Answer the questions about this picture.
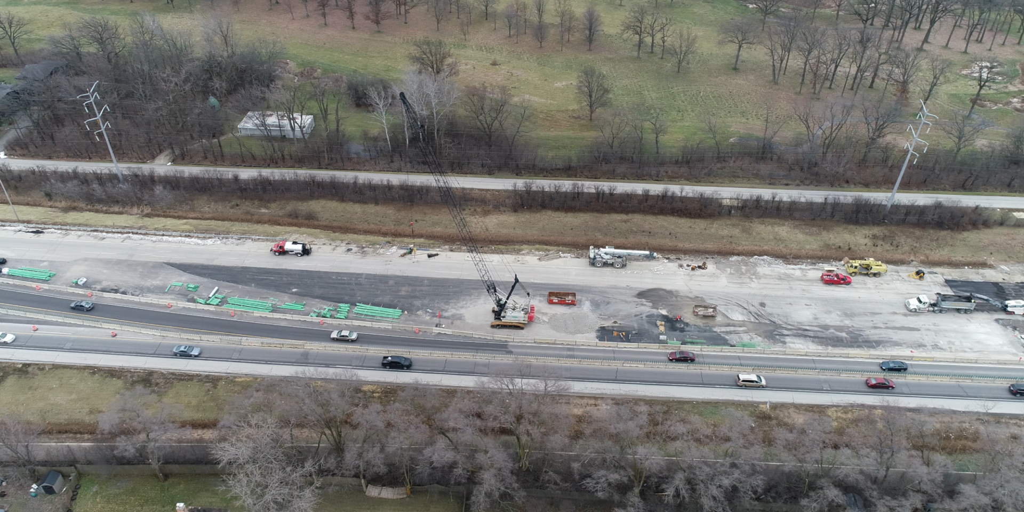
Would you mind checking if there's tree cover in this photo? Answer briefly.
Yes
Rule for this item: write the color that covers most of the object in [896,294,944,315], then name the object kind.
white truck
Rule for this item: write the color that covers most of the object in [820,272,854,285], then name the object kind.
red vehicle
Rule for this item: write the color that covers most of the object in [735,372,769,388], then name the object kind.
white car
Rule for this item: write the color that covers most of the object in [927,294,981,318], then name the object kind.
gray trailer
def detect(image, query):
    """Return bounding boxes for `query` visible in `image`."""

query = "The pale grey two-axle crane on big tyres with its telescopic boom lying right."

[590,245,650,265]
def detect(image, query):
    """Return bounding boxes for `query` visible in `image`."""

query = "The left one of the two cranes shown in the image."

[397,92,534,330]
